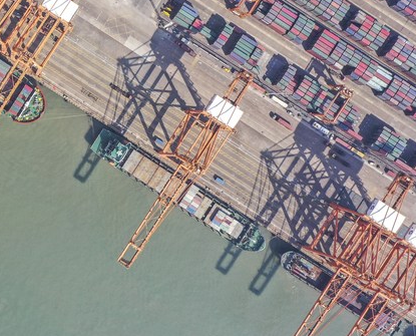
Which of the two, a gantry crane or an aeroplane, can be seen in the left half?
gantry crane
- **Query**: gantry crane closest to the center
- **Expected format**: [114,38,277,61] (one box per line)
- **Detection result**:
[117,69,256,269]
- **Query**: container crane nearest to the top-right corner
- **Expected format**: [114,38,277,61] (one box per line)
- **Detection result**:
[305,84,355,126]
